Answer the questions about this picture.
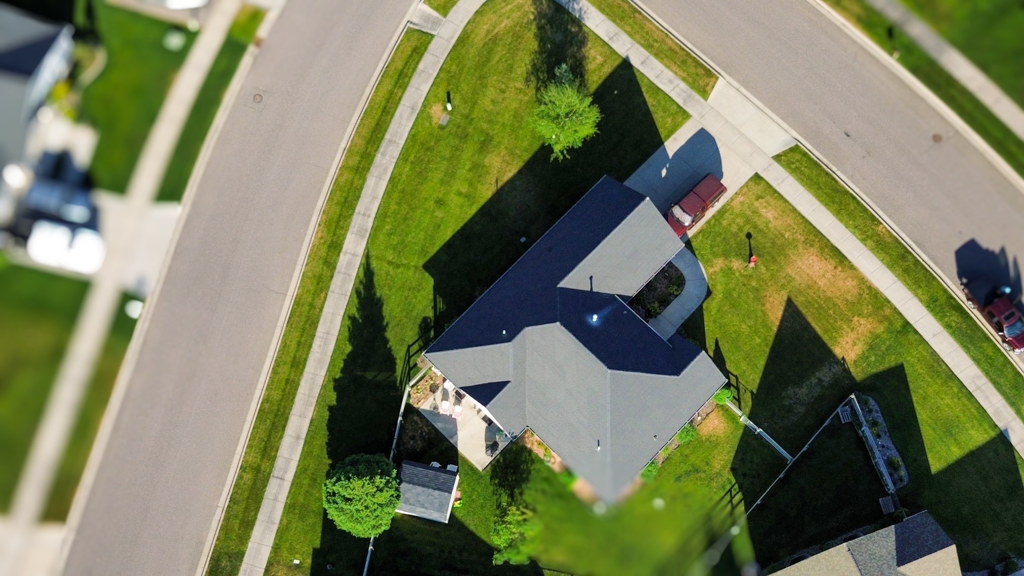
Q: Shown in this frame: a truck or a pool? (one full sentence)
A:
Visible in the photo is a truck.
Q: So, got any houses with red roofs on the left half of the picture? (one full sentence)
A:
No, no house with a red roof appears on the left half of the picture.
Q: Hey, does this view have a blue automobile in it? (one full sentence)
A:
Yes, the frame does contain a blue automobile.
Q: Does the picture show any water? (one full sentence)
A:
No, the picture contains no water.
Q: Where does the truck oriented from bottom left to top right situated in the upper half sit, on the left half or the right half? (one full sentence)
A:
The truck oriented from bottom left to top right situated in the upper half is on the right side of the image.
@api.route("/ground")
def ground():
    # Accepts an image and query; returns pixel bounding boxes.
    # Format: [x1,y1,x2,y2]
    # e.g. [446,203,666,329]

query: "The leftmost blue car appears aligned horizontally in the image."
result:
[24,181,103,224]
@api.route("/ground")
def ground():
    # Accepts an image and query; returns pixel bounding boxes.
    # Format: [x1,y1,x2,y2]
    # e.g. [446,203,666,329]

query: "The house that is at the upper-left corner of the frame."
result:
[0,0,74,161]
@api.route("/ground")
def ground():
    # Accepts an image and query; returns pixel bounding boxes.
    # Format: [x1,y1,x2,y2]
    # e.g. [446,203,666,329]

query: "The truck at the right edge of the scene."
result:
[960,278,1024,359]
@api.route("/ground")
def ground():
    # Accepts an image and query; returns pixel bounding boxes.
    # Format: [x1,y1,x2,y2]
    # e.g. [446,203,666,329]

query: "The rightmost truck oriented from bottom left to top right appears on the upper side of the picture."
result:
[664,174,724,236]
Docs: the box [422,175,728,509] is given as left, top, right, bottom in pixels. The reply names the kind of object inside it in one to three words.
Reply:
house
